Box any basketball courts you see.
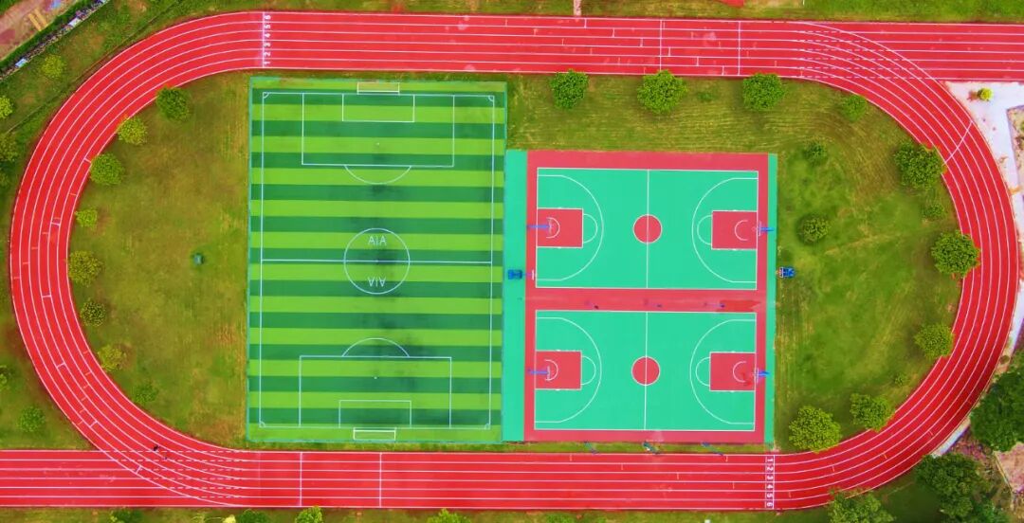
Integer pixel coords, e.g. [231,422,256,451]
[536,168,758,290]
[534,310,757,431]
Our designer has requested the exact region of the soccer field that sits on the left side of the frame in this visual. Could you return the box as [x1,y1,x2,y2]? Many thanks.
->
[245,76,508,446]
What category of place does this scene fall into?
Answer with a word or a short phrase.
sports ground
